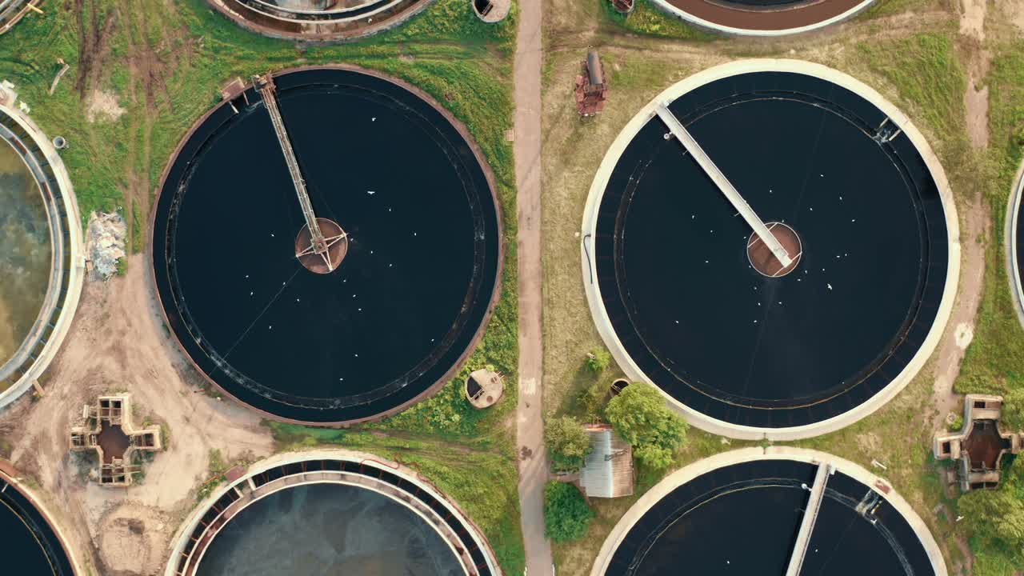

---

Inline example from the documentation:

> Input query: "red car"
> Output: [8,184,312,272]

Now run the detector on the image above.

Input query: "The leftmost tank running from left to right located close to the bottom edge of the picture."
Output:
[164,449,502,576]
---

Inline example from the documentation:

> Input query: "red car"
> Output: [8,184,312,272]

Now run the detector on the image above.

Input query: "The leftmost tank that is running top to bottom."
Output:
[0,95,88,410]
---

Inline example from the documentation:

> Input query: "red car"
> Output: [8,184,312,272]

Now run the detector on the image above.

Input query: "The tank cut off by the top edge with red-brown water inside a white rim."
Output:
[645,0,875,40]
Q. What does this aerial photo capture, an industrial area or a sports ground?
industrial area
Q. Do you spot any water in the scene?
Yes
